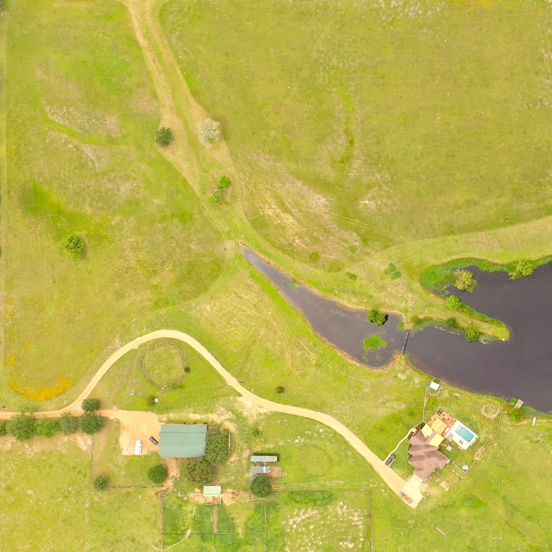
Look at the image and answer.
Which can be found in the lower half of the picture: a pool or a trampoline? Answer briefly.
pool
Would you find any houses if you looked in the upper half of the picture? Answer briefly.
No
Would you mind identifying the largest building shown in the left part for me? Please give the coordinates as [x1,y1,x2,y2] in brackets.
[158,424,208,458]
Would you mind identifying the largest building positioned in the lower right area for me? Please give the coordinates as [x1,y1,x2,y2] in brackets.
[407,418,449,482]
